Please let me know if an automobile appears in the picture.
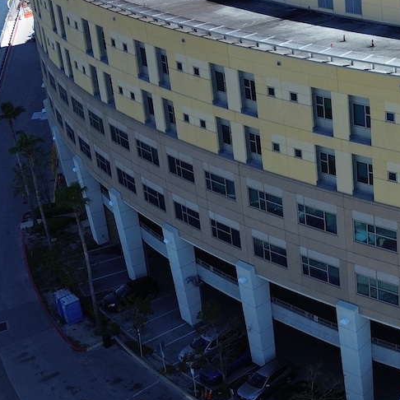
Yes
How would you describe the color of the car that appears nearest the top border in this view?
black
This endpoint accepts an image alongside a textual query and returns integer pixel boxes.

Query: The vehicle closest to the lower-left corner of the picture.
[101,263,168,304]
